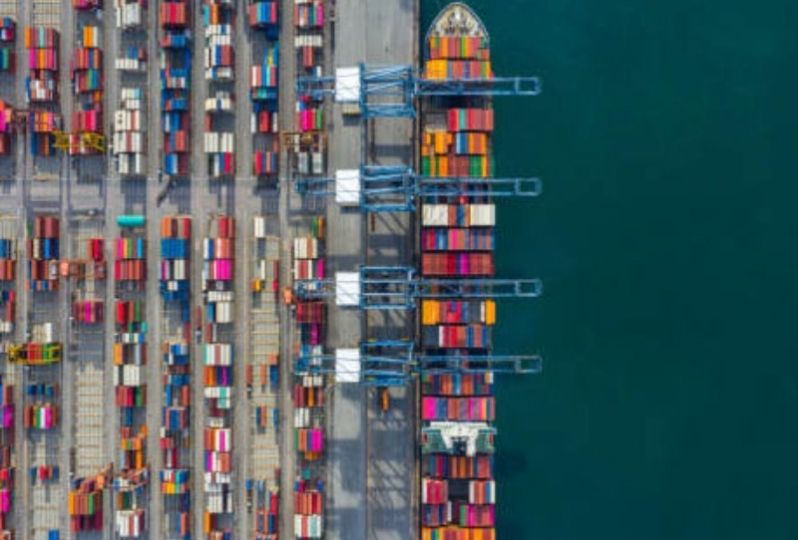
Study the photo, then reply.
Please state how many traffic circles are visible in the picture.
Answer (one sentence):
The count of traffic circles is 0.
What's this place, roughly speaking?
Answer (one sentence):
The picture captures a port.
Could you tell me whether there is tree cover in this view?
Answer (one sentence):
No, no tree cover is visible.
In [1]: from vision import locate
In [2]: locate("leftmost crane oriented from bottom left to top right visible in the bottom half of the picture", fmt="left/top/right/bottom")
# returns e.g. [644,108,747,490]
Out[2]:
[79,452,122,489]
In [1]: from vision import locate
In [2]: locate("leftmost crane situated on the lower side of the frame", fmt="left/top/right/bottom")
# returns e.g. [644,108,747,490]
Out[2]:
[9,339,65,364]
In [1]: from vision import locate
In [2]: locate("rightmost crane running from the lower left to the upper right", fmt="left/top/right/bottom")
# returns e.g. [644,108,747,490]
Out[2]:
[115,457,158,495]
